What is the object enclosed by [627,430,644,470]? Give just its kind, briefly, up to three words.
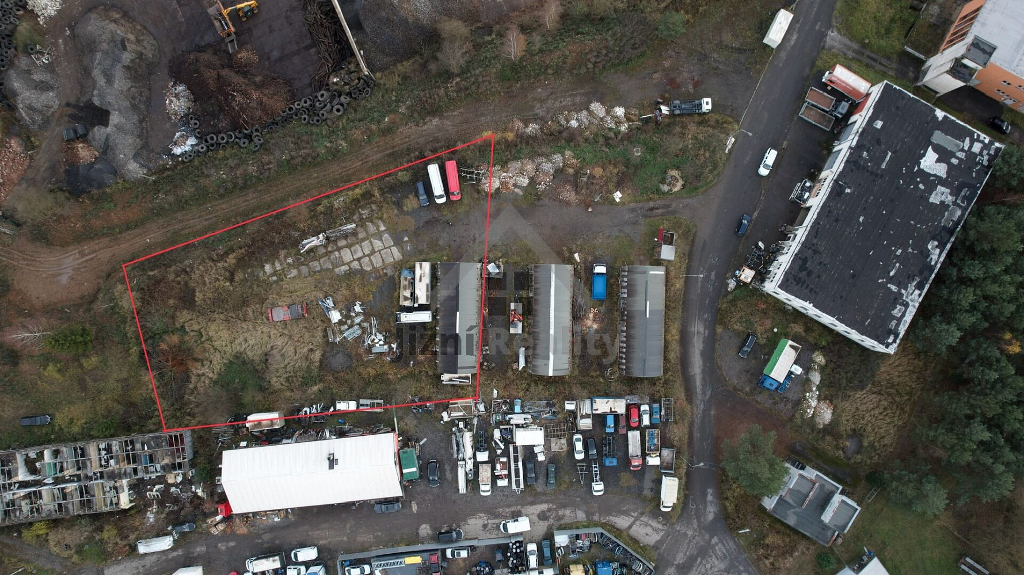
vehicle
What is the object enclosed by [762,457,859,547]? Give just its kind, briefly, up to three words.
house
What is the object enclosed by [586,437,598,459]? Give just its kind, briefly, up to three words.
vehicle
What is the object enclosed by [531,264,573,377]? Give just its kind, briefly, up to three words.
shed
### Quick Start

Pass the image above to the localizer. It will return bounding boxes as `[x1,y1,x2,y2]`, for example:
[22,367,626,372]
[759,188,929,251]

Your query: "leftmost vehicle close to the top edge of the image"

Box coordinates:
[225,0,265,25]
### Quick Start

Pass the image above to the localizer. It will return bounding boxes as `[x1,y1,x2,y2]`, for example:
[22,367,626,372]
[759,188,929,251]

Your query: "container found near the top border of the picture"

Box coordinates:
[763,8,794,48]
